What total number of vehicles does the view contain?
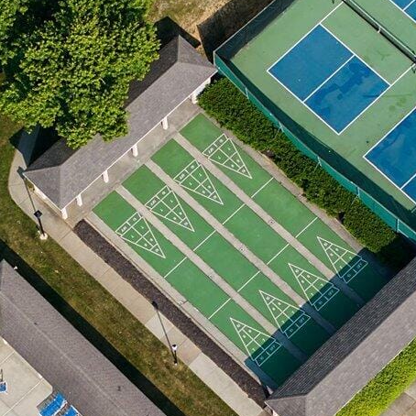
none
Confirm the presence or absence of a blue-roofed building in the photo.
No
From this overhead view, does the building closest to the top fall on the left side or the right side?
left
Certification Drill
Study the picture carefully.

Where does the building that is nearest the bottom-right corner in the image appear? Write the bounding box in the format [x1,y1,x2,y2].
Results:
[266,256,416,416]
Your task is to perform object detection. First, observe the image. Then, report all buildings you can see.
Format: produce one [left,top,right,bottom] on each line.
[24,34,218,222]
[0,261,163,416]
[266,256,416,416]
